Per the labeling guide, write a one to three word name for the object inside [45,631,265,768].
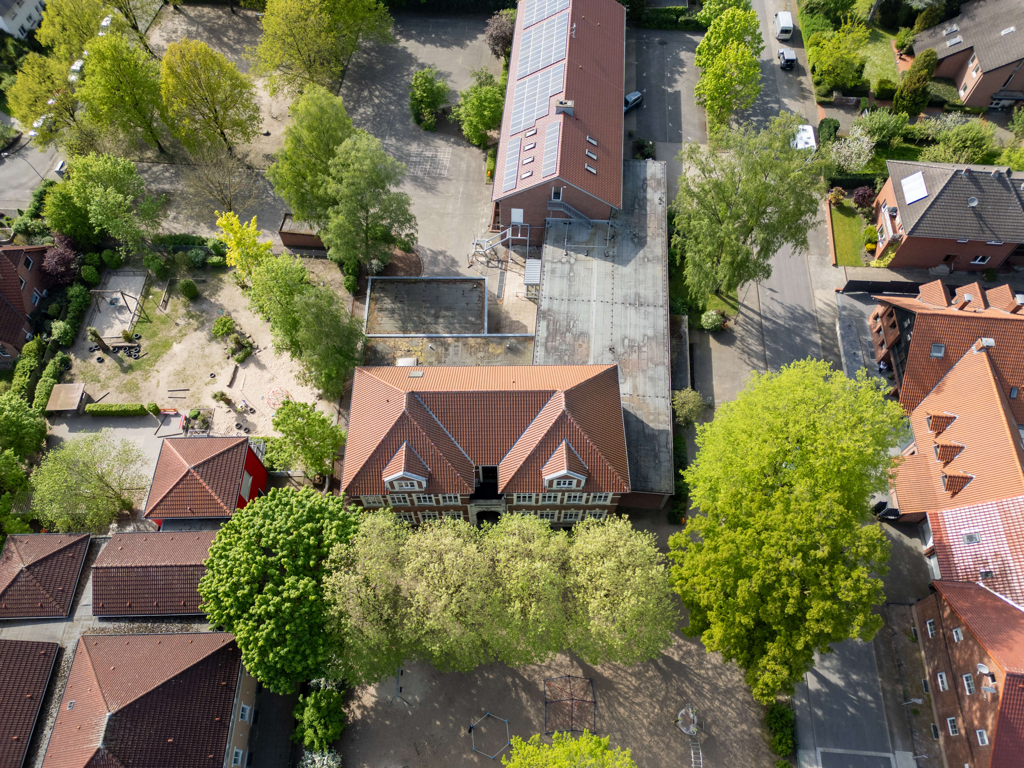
house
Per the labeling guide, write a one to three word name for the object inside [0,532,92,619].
house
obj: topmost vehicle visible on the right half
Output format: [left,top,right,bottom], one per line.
[774,2,799,38]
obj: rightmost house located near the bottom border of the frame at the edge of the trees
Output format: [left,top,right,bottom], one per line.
[910,579,1024,768]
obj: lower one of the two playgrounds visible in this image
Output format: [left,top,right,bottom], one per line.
[53,254,352,503]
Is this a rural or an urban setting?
urban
